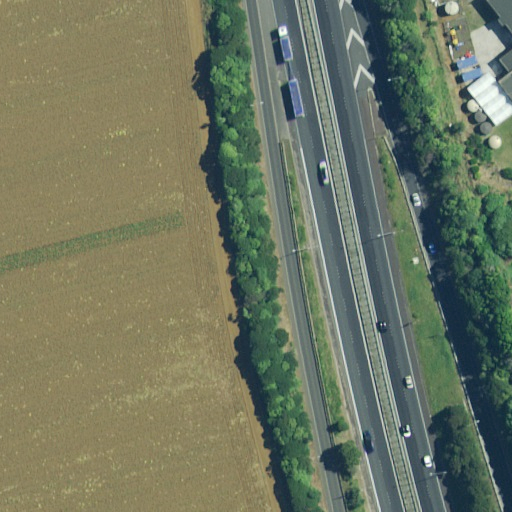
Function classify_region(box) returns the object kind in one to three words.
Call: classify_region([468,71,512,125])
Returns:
shed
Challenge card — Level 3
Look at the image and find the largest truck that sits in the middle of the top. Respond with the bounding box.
[278,25,304,117]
